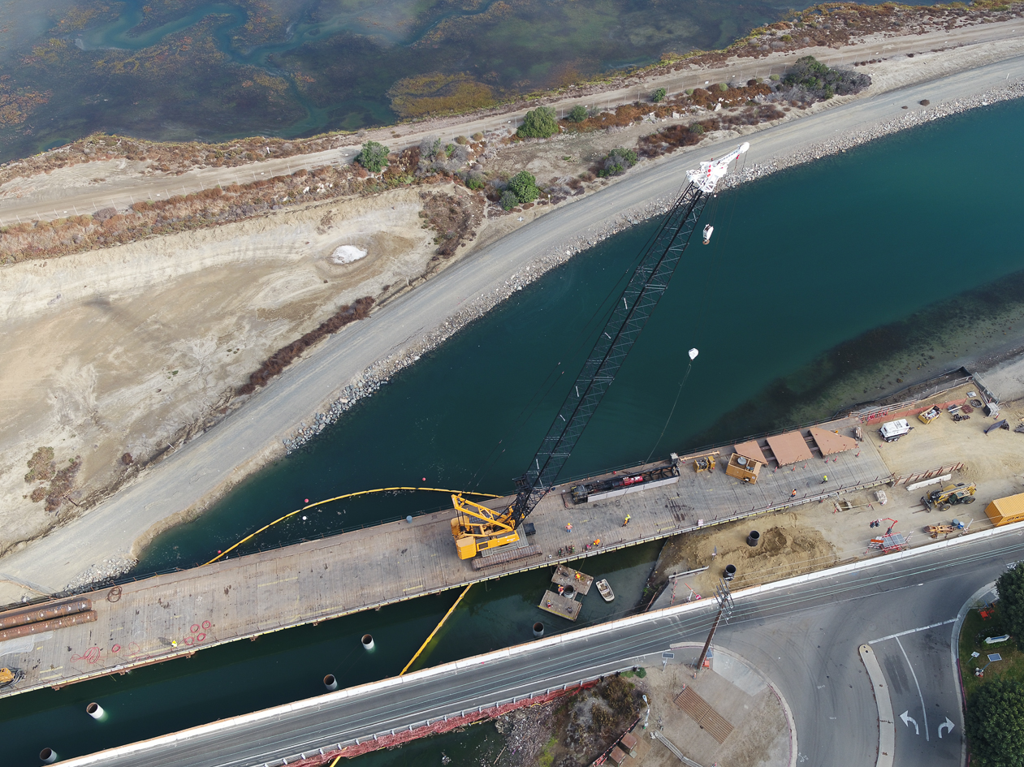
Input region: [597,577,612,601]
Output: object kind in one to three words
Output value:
boat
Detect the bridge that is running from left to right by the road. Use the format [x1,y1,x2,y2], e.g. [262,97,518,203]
[30,562,853,767]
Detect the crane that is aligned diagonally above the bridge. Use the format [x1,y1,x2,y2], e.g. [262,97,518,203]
[450,138,752,572]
